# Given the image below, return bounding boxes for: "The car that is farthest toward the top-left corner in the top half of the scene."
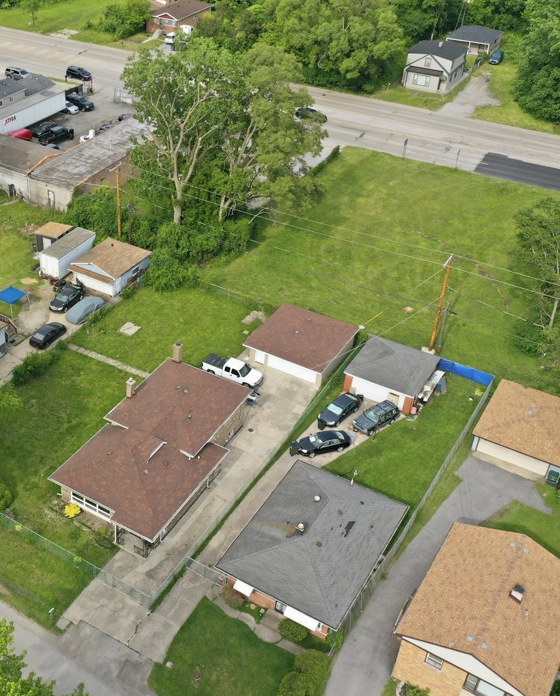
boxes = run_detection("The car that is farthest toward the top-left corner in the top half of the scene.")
[3,66,32,81]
